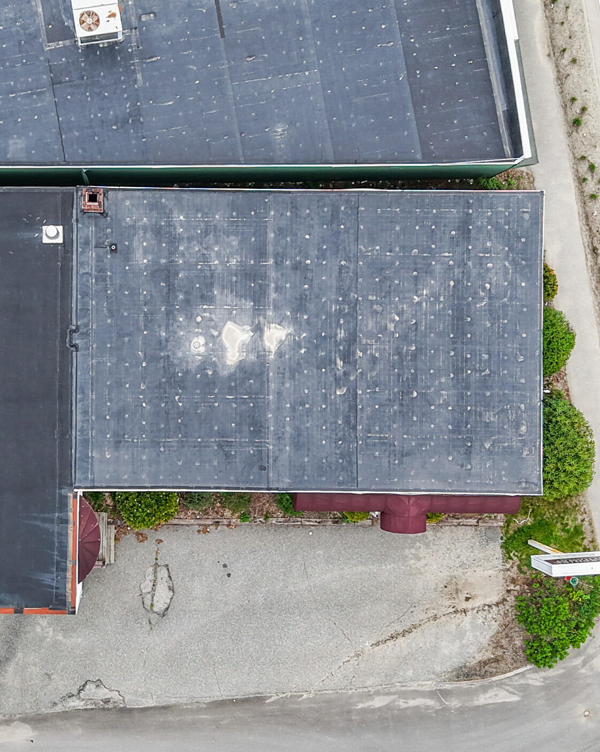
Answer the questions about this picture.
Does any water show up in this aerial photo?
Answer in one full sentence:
No, the scene doesn't show any water.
